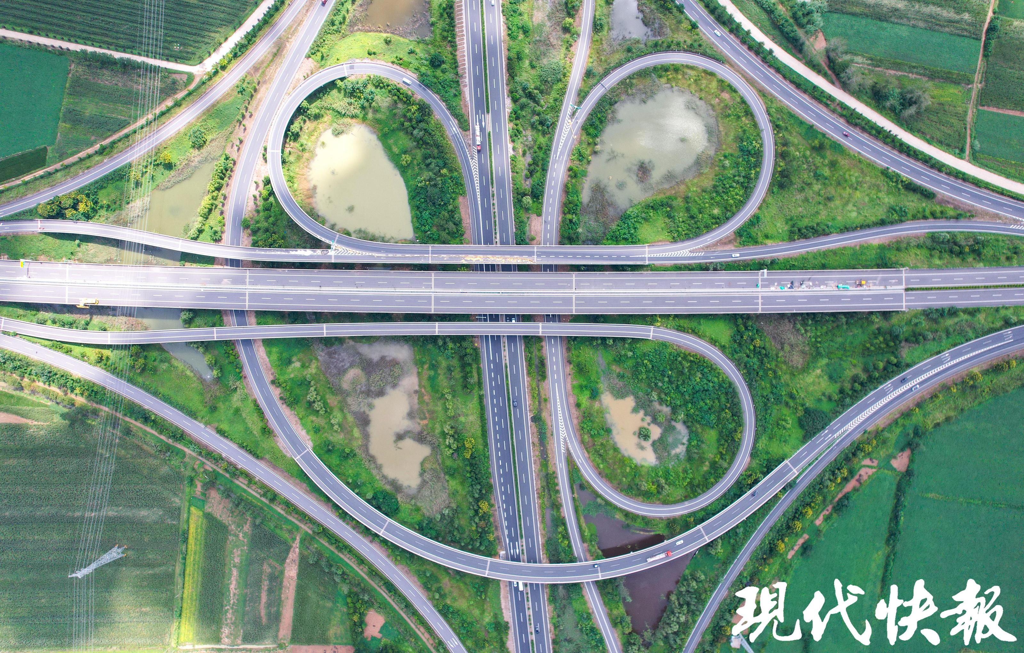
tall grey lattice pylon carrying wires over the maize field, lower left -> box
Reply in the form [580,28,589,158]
[66,545,124,577]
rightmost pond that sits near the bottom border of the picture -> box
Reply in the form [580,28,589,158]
[574,483,697,636]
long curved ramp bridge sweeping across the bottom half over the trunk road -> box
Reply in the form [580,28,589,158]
[295,446,798,584]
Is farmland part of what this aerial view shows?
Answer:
Yes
